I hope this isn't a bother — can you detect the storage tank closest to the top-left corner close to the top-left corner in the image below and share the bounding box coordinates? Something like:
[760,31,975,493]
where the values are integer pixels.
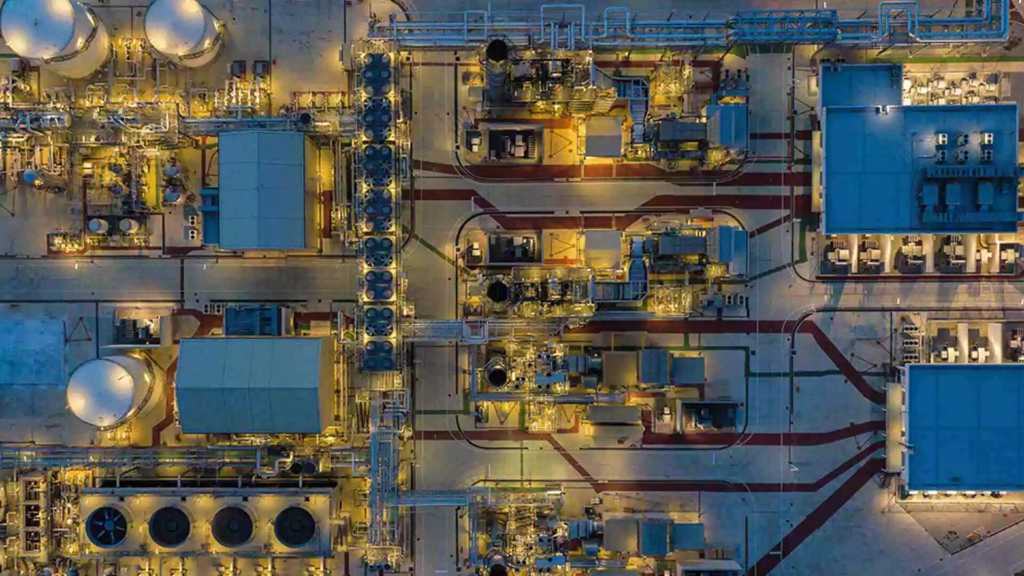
[0,0,110,77]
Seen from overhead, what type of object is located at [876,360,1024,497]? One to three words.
building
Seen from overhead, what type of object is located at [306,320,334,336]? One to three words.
shed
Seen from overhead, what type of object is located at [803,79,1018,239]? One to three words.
building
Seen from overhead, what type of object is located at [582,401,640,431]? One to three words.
shed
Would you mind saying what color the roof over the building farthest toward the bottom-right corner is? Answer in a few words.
blue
